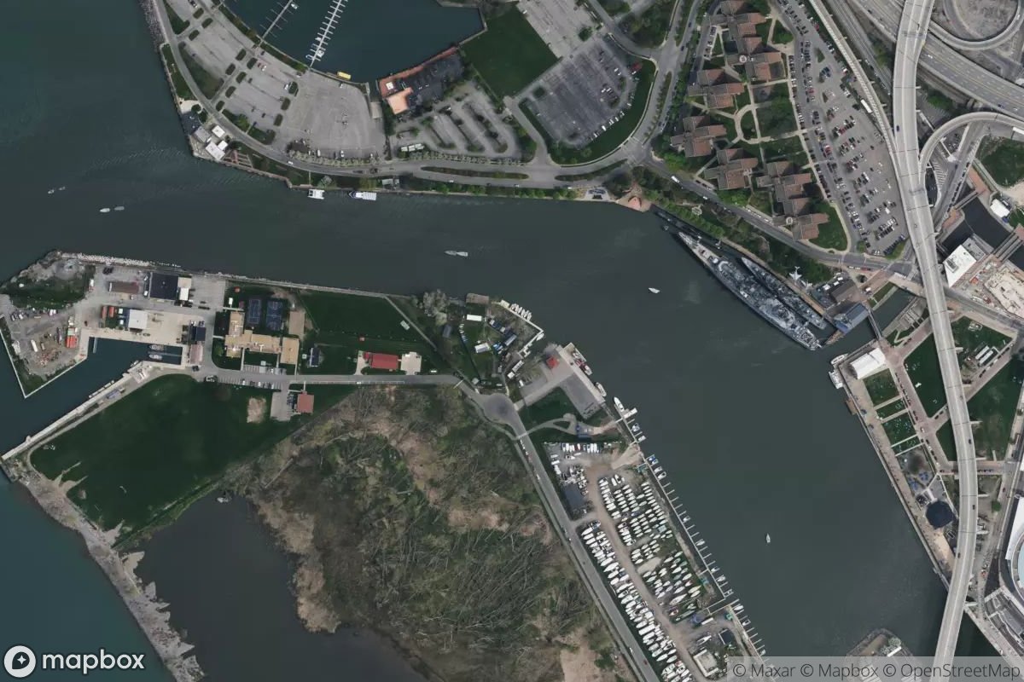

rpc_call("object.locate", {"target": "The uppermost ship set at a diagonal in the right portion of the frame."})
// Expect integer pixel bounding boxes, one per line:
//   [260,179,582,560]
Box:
[654,208,729,256]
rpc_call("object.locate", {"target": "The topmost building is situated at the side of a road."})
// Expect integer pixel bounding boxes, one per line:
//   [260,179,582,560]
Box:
[710,0,761,55]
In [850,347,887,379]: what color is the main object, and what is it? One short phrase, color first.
white tent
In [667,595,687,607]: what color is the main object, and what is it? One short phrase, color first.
white boat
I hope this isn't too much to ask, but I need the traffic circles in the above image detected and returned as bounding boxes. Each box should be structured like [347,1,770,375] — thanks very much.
[478,393,523,426]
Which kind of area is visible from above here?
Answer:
port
